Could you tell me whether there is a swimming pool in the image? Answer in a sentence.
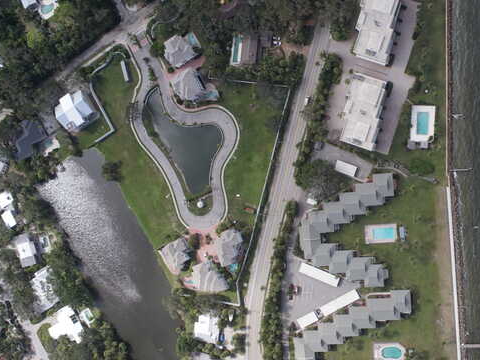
Yes, you can see a swimming pool in this photo.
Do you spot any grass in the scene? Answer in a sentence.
Yes, grass can be seen from above here.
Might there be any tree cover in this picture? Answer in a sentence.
Yes, there is tree cover in the image.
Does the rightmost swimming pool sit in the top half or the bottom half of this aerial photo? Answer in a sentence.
The top half of the photo is where the rightmost swimming pool is.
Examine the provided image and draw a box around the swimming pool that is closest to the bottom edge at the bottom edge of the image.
[373,342,407,360]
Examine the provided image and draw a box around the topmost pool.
[38,0,58,18]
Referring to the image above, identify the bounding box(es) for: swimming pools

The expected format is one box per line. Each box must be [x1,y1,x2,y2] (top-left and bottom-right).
[411,105,436,143]
[182,276,195,289]
[42,139,59,151]
[227,264,240,272]
[204,82,219,100]
[80,309,95,324]
[231,36,241,64]
[373,342,407,360]
[40,235,52,253]
[366,223,397,244]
